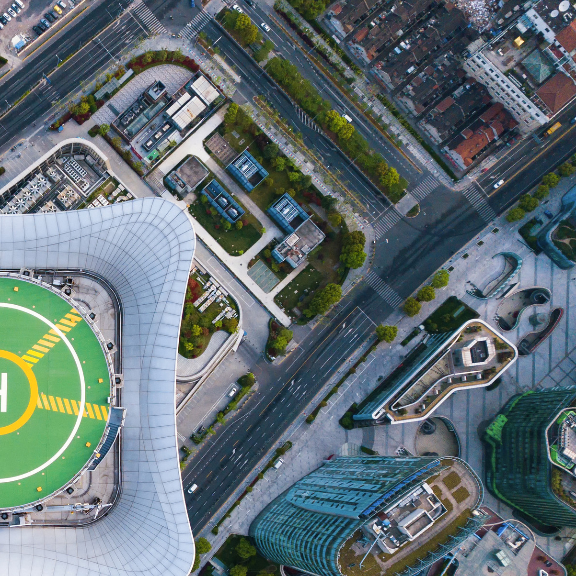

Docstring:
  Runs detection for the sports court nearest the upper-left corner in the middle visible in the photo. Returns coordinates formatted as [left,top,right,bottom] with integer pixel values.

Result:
[248,259,280,292]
